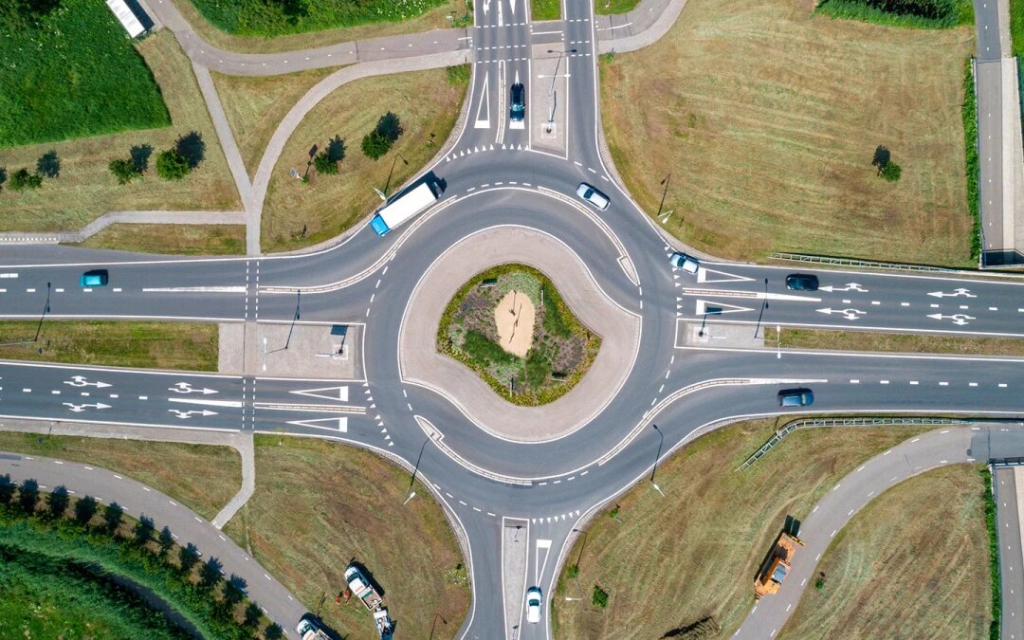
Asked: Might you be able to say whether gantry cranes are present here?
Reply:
No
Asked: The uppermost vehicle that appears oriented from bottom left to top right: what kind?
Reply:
truck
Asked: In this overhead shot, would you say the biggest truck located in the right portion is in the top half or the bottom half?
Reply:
bottom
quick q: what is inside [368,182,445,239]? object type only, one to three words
truck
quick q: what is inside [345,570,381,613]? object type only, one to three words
truck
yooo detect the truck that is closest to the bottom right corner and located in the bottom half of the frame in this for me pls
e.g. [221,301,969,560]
[759,534,811,603]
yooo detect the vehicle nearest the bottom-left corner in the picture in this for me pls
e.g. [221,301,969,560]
[299,619,325,640]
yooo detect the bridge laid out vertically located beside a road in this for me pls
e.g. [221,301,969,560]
[974,57,1024,268]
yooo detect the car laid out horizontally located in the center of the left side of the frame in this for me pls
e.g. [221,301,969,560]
[80,273,108,287]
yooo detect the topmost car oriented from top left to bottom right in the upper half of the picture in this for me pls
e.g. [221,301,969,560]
[576,185,609,210]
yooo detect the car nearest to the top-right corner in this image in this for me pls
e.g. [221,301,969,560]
[785,276,817,291]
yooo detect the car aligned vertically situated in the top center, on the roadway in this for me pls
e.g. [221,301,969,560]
[509,89,524,121]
